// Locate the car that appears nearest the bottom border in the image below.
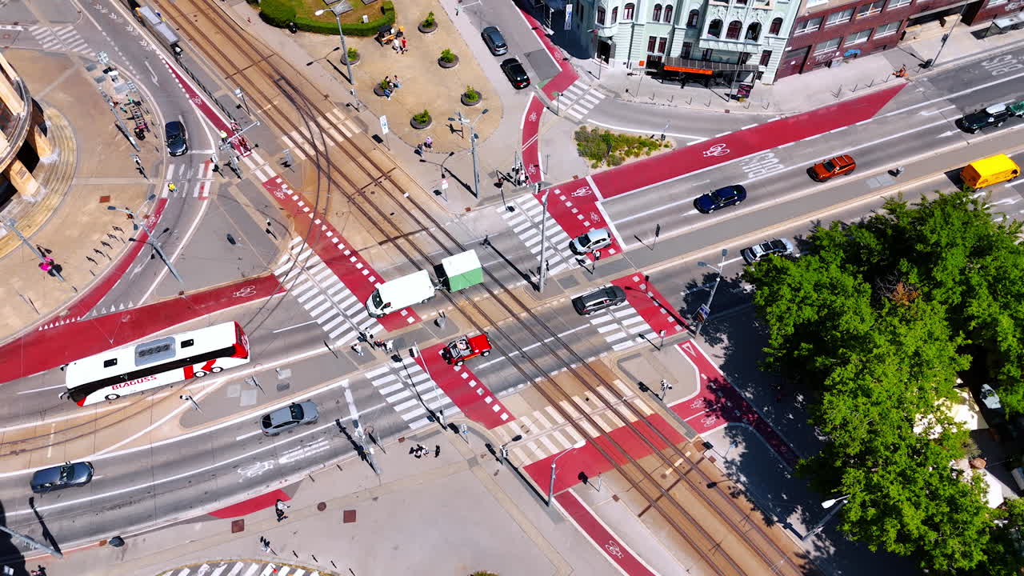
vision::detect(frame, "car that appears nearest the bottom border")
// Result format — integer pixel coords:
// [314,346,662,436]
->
[24,458,95,496]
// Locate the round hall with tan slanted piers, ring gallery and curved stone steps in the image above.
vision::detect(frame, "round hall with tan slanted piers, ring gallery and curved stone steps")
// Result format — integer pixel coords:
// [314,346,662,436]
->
[0,75,79,256]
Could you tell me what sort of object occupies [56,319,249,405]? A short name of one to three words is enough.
bus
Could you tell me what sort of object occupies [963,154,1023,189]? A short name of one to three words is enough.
van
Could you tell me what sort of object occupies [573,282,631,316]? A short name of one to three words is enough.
car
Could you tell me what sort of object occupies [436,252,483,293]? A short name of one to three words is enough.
trailer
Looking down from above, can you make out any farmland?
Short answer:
No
